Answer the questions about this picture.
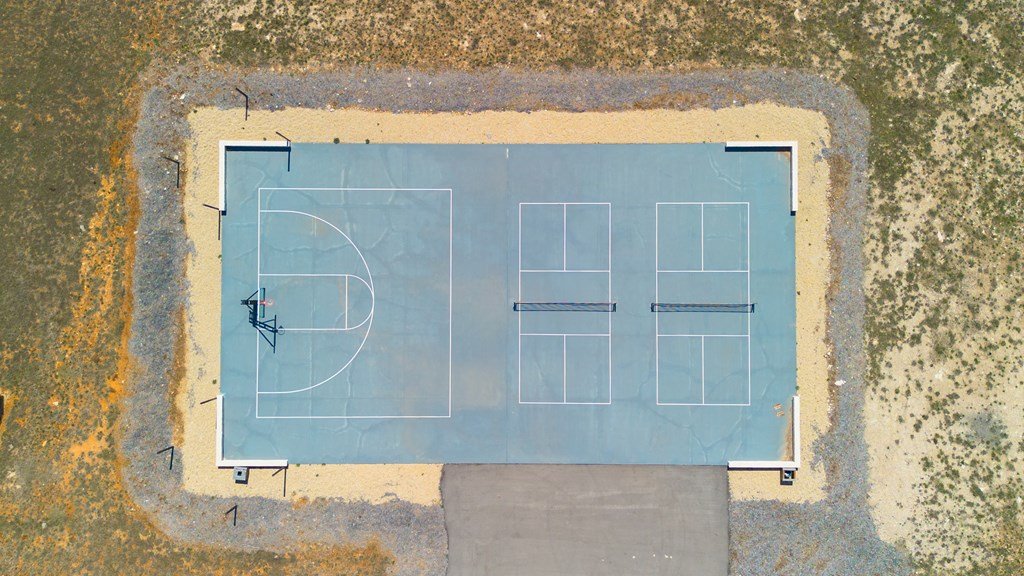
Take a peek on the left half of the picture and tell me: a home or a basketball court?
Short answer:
basketball court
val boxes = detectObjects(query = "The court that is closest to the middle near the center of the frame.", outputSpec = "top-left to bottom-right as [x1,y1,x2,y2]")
[519,203,610,404]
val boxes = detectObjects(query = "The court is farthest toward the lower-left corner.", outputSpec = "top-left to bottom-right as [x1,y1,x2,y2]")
[257,188,452,418]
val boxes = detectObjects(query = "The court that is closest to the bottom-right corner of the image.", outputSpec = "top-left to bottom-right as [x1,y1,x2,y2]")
[656,203,750,405]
